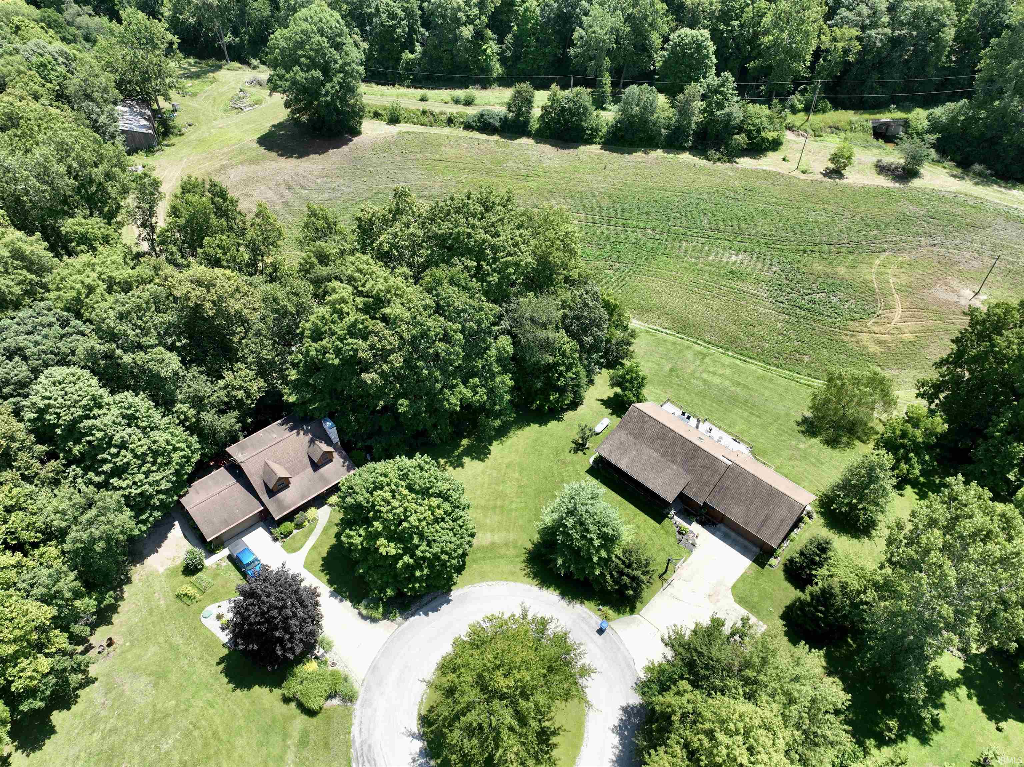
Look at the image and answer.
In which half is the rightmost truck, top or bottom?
bottom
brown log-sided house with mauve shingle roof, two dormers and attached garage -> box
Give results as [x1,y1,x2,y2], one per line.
[179,405,357,546]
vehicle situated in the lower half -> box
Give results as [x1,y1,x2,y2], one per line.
[227,538,263,582]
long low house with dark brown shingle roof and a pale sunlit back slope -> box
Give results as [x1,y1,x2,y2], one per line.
[595,402,817,554]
